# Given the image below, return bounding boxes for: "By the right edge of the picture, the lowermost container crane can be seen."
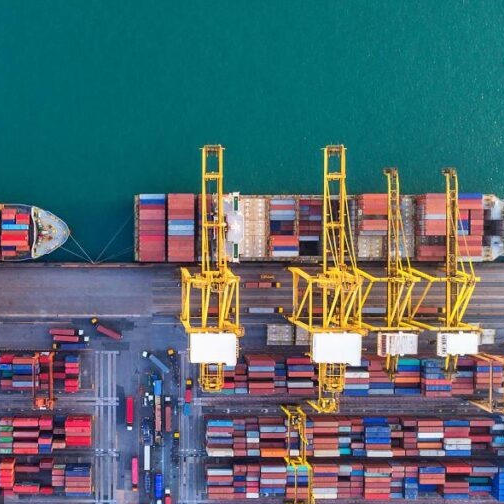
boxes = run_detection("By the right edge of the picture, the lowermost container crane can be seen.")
[469,351,504,414]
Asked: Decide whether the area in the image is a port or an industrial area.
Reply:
port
